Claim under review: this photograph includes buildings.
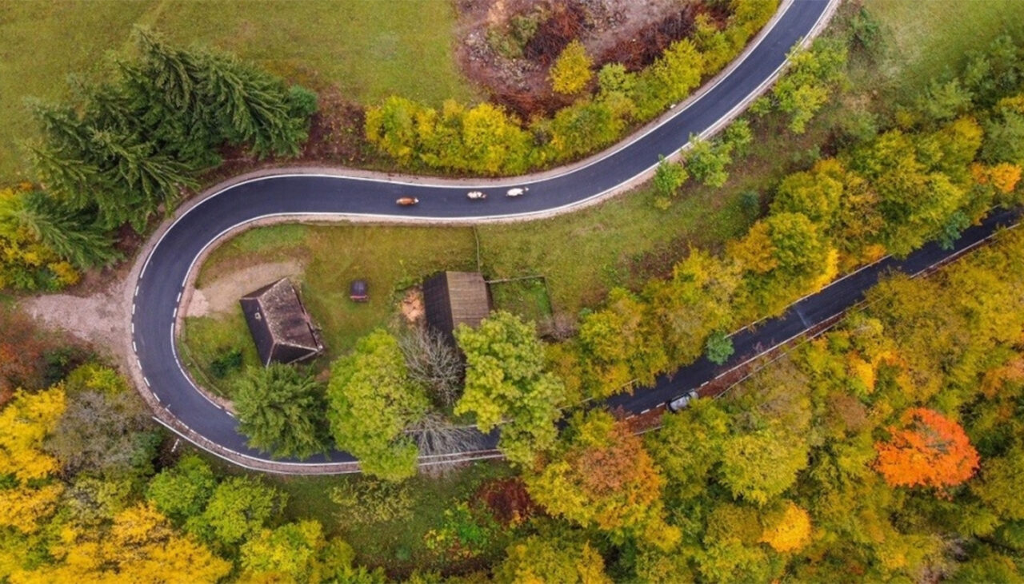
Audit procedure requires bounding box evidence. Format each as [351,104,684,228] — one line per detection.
[423,270,491,355]
[238,278,318,370]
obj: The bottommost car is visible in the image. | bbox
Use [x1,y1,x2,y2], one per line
[665,390,696,413]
